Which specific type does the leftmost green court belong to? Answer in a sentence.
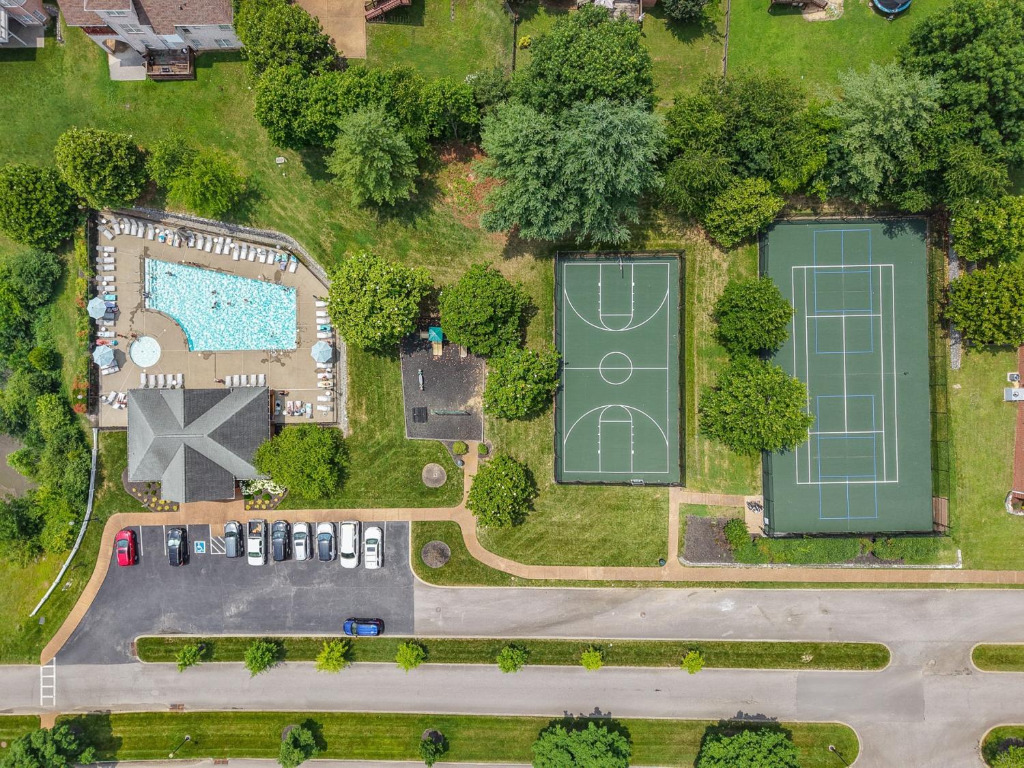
It looks like the leftmost green court is a basketball court.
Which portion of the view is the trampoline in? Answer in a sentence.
The trampoline is located in the top right region of the scene.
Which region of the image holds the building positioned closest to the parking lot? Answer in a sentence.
The building positioned closest to the parking lot appears toward the left of the photo.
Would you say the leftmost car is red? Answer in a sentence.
Yes, red is the color of the leftmost car.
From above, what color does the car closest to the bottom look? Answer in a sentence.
The color of the car closest to the bottom is blue.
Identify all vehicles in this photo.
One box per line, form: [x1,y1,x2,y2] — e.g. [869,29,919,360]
[364,525,384,570]
[165,524,190,569]
[338,520,361,569]
[113,526,139,568]
[344,616,386,638]
[223,516,247,561]
[292,520,314,562]
[271,518,293,562]
[316,519,338,564]
[246,517,268,567]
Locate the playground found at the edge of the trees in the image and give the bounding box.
[401,328,485,440]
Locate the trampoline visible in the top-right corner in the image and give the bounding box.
[873,0,914,22]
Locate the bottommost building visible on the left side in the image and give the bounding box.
[127,388,274,504]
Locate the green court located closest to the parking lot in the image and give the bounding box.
[556,256,678,483]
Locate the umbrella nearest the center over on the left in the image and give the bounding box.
[312,341,332,361]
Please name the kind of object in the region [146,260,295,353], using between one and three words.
swimming pool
